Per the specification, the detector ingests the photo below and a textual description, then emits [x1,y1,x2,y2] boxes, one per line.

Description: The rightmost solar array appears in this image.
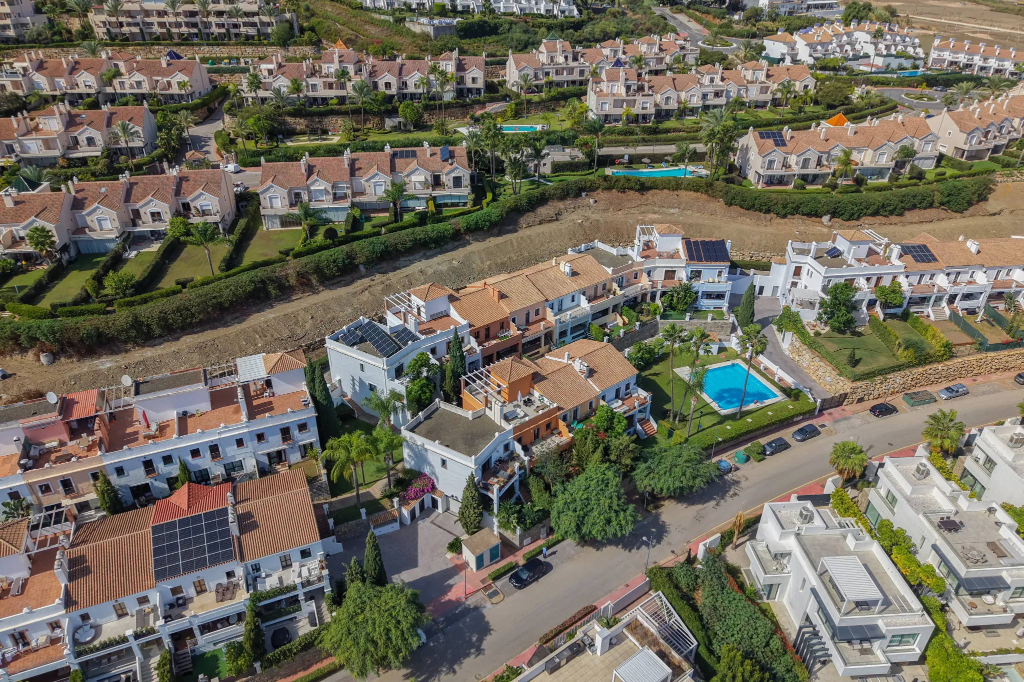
[902,246,935,262]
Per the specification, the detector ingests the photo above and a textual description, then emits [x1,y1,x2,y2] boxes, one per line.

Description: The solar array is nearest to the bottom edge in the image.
[151,510,234,580]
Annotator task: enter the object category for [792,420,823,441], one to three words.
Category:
car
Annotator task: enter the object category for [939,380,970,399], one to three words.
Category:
car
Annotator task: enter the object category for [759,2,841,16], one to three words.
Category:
building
